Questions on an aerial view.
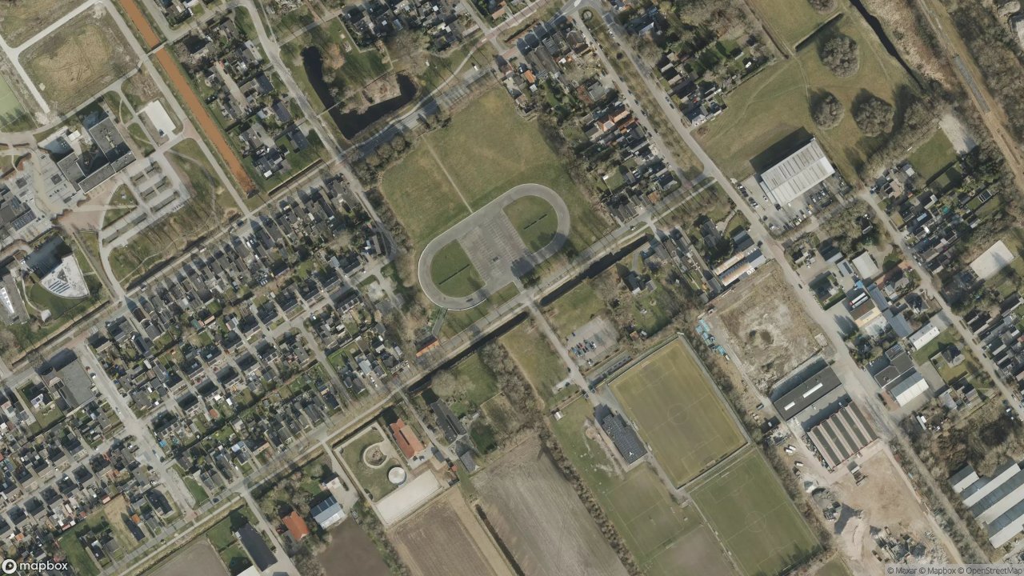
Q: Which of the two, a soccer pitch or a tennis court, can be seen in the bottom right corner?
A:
soccer pitch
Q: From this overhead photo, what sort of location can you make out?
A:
residential area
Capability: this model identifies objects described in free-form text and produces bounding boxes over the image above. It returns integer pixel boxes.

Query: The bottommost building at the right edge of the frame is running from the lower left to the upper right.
[982,503,1024,547]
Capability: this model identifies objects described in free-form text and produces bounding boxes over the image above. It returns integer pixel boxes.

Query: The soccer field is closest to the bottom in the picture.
[650,516,742,576]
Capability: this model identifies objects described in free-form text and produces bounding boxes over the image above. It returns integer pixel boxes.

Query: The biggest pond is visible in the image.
[303,47,416,139]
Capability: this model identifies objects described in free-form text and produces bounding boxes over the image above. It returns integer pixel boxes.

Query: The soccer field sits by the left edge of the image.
[0,75,26,130]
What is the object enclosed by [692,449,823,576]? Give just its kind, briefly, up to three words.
soccer field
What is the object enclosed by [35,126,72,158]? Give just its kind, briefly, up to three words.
building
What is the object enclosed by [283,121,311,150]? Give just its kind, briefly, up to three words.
house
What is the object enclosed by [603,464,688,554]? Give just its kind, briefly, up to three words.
soccer field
